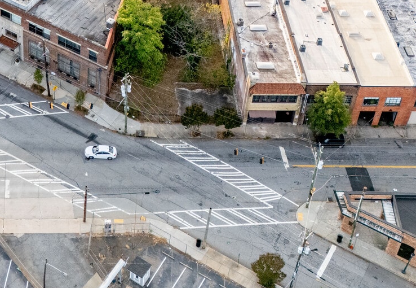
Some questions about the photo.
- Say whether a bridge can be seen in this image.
No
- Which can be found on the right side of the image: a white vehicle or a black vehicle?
black vehicle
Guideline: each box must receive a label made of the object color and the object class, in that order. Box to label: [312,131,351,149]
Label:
black car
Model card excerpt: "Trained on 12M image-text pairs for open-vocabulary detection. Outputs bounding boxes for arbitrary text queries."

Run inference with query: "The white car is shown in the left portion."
[83,145,118,162]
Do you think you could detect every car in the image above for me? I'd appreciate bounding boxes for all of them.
[83,145,118,162]
[312,131,351,149]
